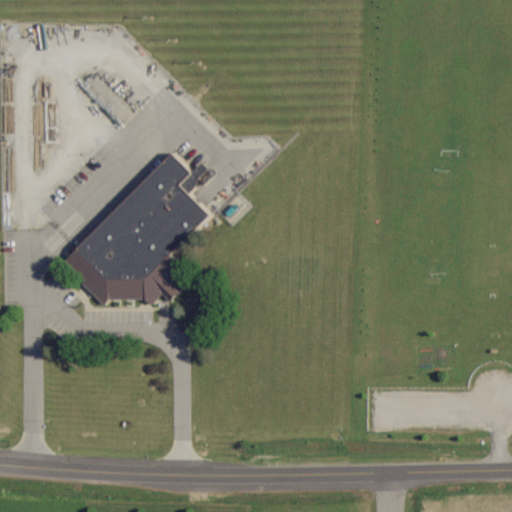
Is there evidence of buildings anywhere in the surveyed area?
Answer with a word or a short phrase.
Yes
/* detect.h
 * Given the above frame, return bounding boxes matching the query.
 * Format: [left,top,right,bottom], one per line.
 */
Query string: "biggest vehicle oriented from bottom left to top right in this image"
[198,169,216,186]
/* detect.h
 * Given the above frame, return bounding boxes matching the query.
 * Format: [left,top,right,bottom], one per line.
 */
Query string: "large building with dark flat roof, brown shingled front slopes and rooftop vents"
[66,154,214,305]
